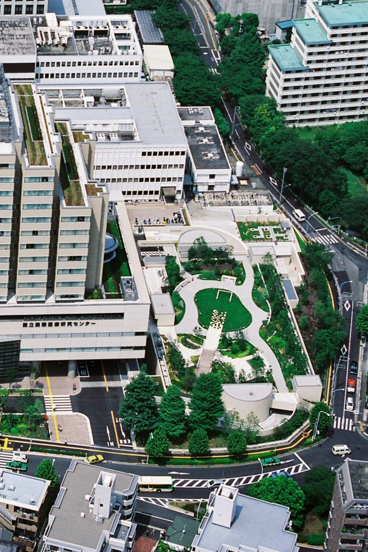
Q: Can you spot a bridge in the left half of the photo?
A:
No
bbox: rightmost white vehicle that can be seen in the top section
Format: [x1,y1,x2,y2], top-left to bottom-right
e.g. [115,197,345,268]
[290,208,308,221]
